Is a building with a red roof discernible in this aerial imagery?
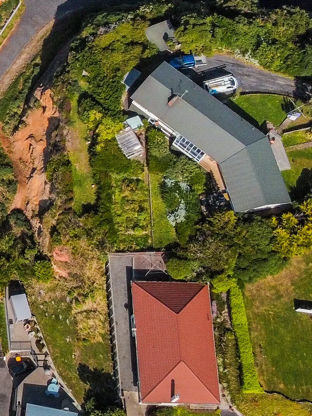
Yes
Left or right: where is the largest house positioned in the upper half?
right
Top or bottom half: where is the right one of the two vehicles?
top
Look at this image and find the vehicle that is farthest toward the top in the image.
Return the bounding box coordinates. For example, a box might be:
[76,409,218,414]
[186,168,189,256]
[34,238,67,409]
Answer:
[167,54,208,70]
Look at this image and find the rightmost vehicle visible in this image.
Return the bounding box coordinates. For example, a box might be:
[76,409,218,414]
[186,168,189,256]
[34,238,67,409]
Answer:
[200,74,237,94]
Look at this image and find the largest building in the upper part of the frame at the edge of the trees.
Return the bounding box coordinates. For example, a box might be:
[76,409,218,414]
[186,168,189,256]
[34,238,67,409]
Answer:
[130,61,293,212]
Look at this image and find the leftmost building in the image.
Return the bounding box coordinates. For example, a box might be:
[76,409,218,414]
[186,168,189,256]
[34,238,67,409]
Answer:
[8,293,32,322]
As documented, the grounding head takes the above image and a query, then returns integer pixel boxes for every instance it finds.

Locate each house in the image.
[125,282,220,405]
[130,61,293,212]
[19,403,78,416]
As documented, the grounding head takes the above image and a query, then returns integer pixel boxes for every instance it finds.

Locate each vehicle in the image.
[200,74,237,94]
[167,54,208,70]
